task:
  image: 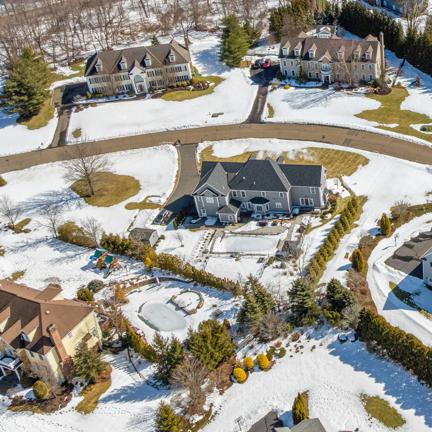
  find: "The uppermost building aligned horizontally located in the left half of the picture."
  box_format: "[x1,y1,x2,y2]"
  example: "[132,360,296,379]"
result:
[85,31,195,93]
